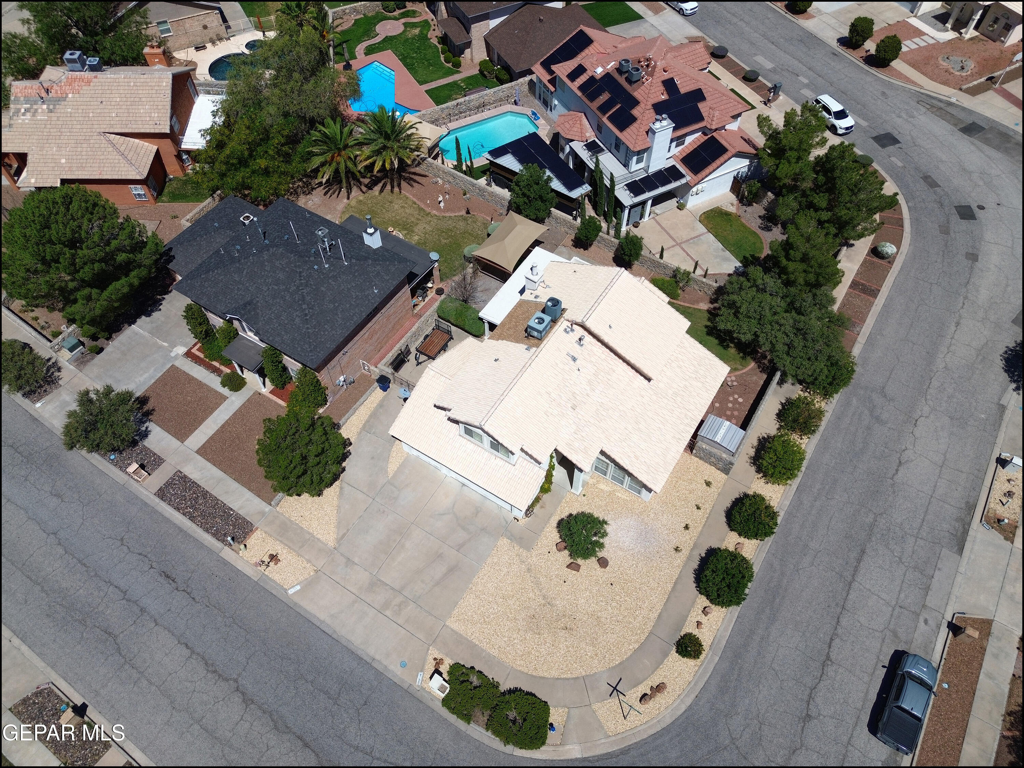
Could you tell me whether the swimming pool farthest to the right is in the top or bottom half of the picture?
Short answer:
top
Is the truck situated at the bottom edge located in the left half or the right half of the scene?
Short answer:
right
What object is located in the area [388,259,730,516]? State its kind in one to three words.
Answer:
house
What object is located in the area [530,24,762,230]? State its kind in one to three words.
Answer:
house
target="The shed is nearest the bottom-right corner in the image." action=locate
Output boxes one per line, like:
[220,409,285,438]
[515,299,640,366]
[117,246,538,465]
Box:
[696,413,746,459]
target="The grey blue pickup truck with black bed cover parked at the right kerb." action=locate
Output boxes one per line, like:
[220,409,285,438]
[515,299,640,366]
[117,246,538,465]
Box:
[870,648,936,764]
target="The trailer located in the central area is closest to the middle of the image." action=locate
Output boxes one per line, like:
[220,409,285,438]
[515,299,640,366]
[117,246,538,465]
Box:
[415,319,453,367]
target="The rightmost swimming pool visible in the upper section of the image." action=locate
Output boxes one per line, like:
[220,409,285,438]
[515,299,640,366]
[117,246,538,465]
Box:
[436,109,542,163]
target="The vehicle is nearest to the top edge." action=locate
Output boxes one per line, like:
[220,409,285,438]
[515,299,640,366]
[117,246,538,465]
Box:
[666,0,703,20]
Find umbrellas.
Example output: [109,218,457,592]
[342,52,353,70]
[512,86,522,108]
